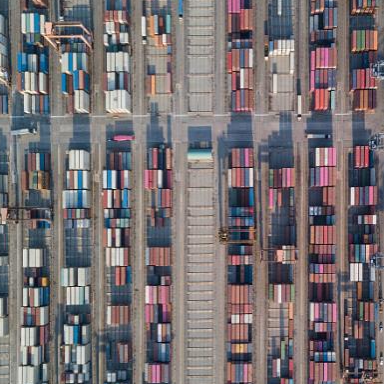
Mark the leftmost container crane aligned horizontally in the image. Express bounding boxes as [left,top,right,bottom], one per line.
[0,205,53,224]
